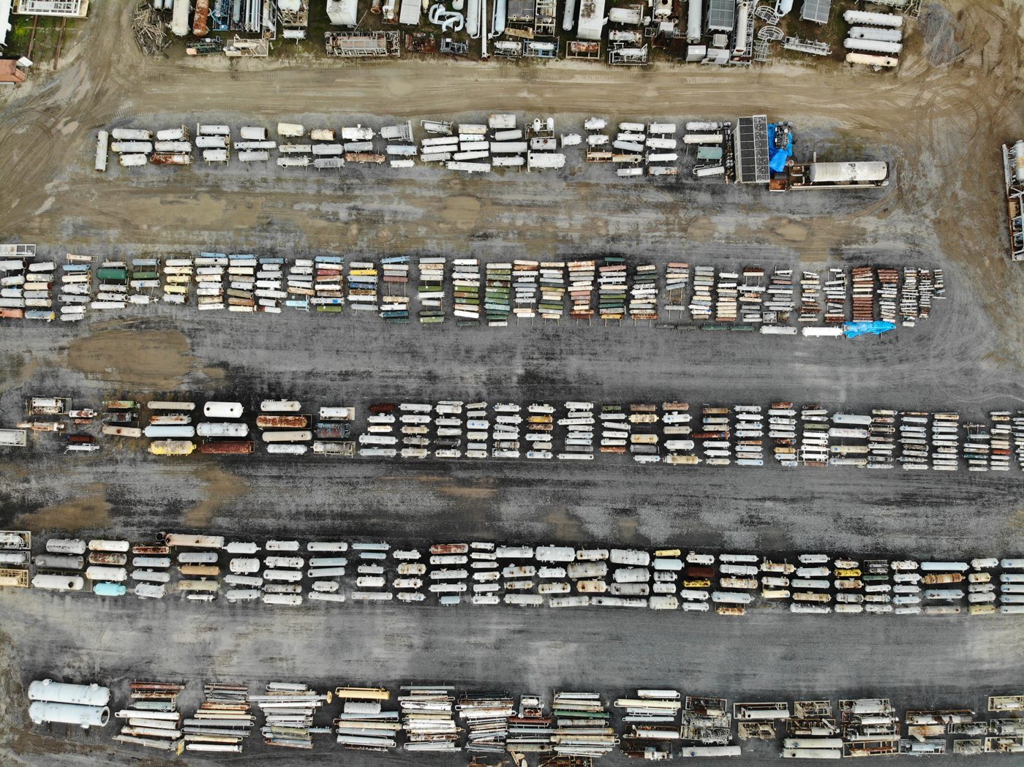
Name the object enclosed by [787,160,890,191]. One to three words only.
trailer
